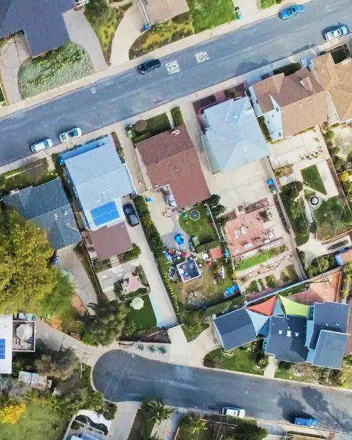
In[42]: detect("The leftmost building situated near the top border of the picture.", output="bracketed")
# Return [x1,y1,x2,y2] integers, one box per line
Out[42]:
[0,0,76,61]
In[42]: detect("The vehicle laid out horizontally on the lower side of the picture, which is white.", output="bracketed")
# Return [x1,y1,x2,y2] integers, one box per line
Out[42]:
[219,406,247,420]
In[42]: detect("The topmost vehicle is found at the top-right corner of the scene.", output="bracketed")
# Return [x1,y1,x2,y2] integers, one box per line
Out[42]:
[278,3,306,21]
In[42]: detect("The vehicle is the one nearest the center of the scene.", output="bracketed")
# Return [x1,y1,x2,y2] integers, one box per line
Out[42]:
[122,201,141,228]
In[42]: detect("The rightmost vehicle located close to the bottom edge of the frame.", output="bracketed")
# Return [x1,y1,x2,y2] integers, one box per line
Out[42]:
[288,413,322,430]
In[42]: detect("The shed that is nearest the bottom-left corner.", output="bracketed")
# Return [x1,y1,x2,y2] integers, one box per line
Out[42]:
[19,371,46,389]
